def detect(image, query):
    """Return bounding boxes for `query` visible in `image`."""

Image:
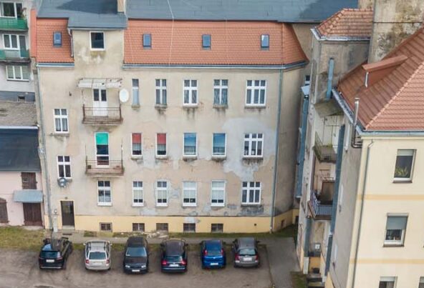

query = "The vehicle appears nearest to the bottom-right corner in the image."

[230,233,262,265]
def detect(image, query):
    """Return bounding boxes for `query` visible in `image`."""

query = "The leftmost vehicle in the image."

[40,232,82,267]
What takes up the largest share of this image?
buildings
